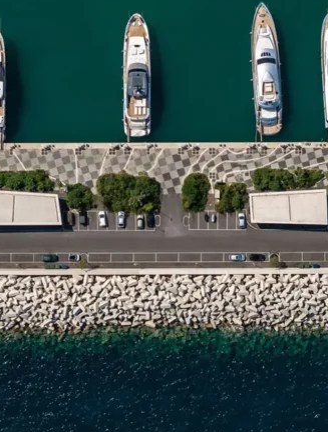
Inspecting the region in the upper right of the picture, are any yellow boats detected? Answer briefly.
No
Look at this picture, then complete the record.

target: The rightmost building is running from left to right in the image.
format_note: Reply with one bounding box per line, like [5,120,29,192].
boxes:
[248,189,328,226]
